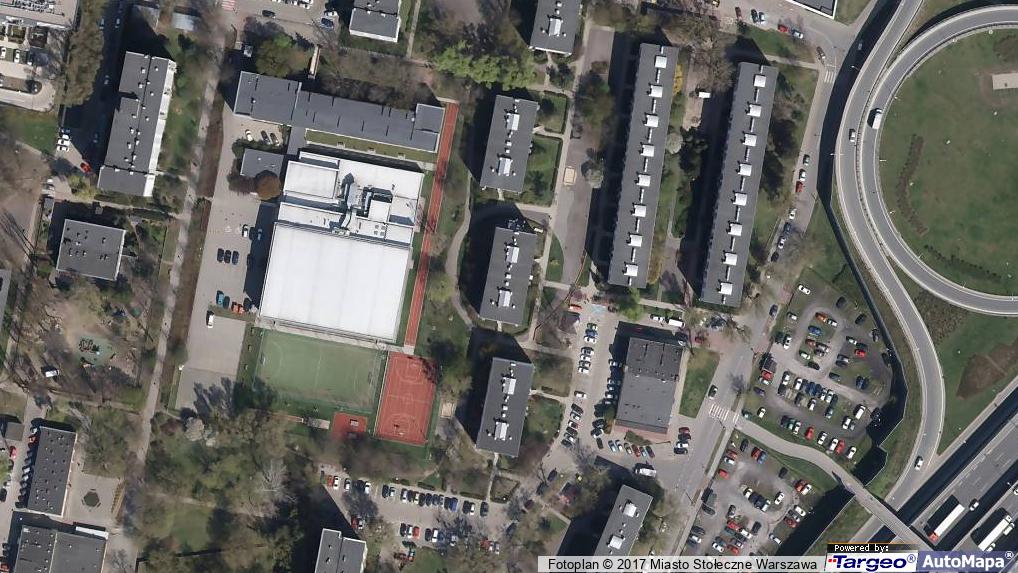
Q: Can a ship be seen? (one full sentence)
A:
No, there is no ship in the image.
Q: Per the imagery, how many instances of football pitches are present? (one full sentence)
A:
I count just 1 football pitch.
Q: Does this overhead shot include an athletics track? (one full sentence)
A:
Yes, the image includes an athletics track.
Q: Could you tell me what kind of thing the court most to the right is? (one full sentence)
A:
What you see as the court most to the right is a basketball court.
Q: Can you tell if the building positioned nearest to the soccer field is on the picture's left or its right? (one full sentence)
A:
The building positioned nearest to the soccer field is on the left side of the image.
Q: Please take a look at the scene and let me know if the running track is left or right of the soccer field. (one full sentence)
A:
From the viewer's perspective, the running track falls to the right of the soccer field.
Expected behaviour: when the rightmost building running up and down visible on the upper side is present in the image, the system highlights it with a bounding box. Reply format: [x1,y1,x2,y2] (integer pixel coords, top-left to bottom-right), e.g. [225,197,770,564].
[697,62,778,306]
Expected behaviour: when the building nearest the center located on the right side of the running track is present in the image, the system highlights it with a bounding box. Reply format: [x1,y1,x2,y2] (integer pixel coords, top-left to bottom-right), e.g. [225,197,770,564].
[480,227,537,325]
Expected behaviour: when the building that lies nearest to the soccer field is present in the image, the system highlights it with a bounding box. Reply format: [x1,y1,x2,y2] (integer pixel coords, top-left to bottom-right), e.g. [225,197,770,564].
[258,223,412,346]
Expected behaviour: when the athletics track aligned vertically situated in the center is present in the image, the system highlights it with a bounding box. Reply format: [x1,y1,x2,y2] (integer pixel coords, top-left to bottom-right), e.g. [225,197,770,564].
[402,103,458,355]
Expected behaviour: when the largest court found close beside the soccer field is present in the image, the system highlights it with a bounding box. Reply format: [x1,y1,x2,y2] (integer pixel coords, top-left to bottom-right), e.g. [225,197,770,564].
[374,352,438,446]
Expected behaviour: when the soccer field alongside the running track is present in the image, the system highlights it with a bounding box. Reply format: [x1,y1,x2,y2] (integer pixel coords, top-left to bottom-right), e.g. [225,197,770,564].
[253,329,388,415]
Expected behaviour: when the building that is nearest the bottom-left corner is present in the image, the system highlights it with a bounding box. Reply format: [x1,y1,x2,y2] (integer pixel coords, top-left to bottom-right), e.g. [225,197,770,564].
[13,523,110,573]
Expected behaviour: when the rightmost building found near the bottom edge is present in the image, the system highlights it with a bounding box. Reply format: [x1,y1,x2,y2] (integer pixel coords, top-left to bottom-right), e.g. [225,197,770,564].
[586,481,653,573]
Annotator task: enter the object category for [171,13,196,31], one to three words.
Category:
shed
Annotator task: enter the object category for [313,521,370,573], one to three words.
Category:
building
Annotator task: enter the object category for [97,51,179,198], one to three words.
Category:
building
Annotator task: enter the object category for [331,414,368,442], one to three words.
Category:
sports court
